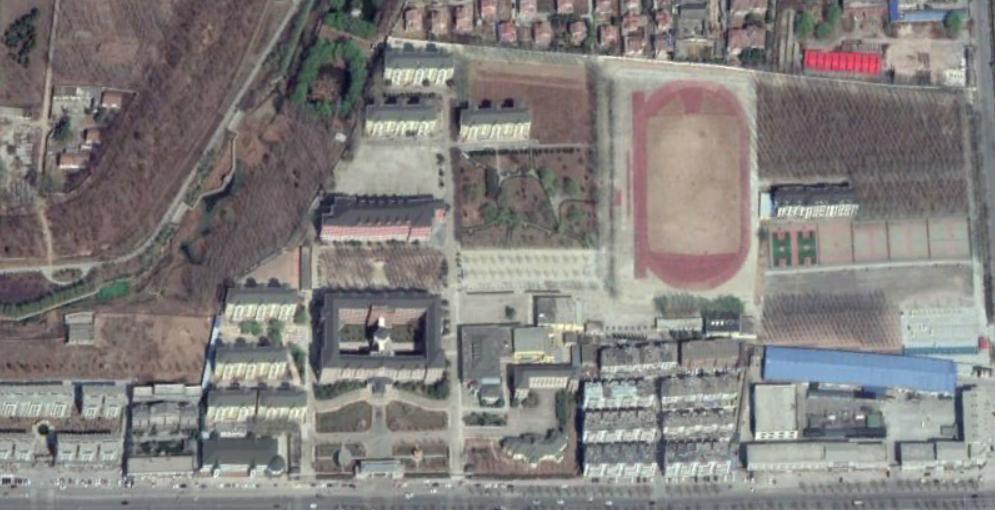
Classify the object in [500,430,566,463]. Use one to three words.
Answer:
building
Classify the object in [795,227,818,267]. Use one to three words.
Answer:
basketball court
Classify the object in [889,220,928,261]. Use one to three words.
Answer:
sports court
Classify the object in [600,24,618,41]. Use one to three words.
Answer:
house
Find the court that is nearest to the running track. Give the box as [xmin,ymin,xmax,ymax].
[770,228,794,268]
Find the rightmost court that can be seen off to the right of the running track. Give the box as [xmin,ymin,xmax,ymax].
[930,219,970,259]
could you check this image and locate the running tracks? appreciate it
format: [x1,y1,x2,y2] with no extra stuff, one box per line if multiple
[634,79,750,289]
